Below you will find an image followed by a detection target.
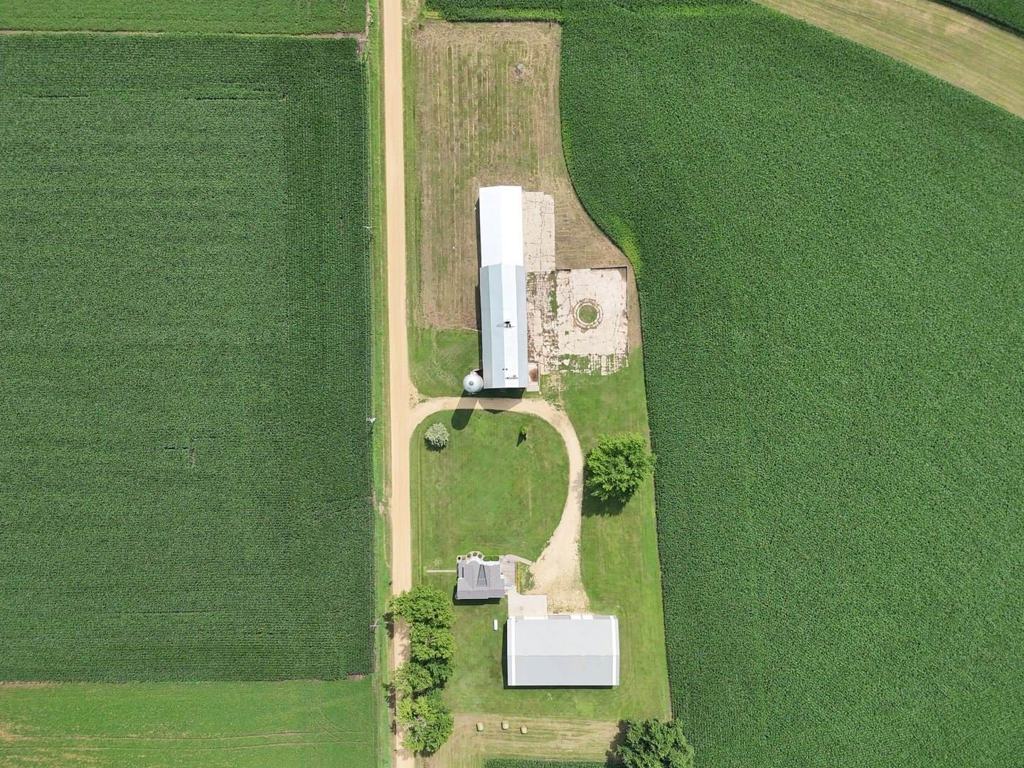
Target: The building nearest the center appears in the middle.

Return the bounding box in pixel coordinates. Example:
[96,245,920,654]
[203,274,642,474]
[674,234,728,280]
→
[480,262,528,389]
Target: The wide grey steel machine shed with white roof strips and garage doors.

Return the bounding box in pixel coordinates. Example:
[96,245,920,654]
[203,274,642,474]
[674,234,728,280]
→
[507,615,620,686]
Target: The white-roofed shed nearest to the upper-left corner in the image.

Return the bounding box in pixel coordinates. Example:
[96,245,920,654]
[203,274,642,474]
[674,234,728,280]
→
[479,186,524,267]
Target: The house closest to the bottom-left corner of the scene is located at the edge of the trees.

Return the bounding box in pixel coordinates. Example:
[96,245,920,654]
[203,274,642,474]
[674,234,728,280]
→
[457,555,505,599]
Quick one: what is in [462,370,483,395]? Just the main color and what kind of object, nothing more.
white silo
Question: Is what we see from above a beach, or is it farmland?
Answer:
farmland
